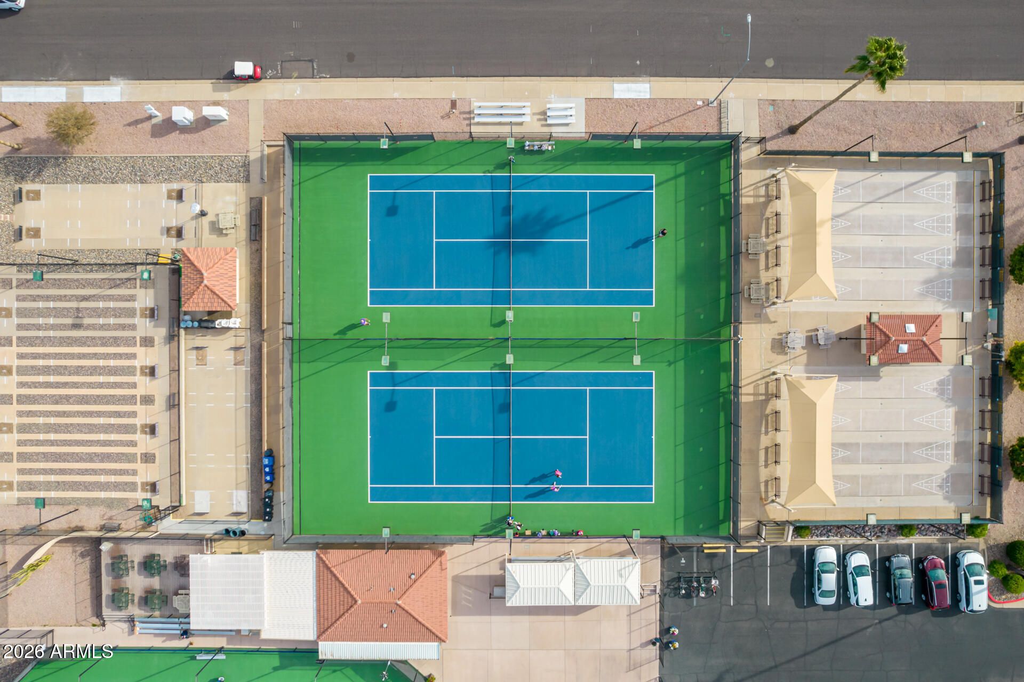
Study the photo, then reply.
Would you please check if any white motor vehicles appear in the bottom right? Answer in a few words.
Yes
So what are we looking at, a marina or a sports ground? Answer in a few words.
sports ground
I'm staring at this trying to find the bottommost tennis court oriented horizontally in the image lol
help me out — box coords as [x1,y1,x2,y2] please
[22,648,411,682]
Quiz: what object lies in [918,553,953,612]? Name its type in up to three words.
car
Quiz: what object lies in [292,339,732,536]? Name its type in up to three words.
tennis court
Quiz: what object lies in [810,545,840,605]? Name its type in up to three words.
car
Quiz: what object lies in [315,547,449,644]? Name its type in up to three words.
building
